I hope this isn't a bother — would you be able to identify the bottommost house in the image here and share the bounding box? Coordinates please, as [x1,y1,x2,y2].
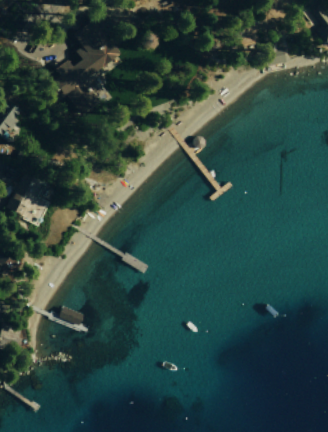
[0,326,24,350]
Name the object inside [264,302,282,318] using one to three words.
boat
